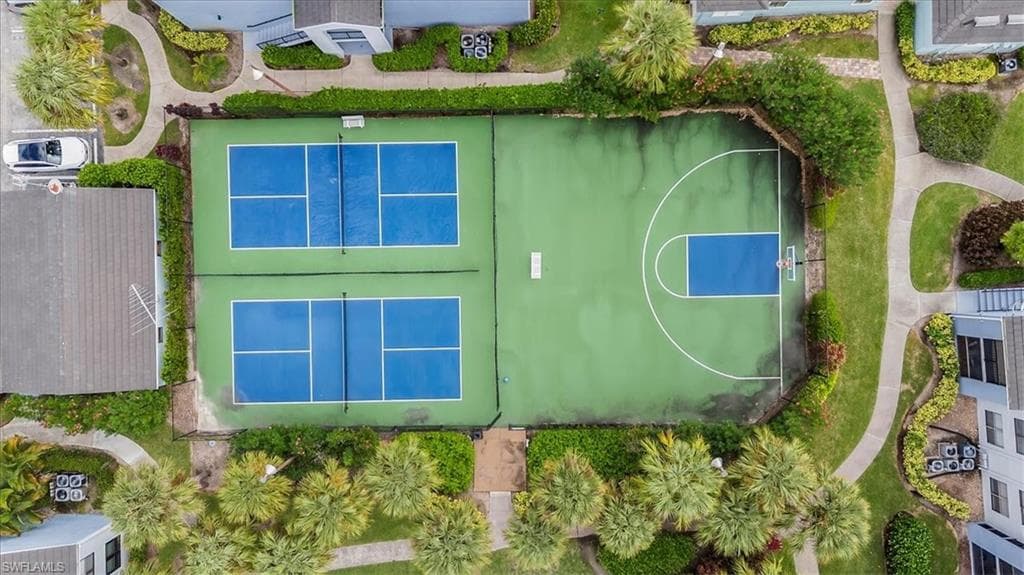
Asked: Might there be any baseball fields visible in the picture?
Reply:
No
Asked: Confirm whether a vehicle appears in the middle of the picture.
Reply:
No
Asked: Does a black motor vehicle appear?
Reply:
No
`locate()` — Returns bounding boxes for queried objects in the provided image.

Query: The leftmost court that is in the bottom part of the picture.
[193,273,499,431]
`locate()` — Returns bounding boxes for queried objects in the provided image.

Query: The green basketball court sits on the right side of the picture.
[495,110,806,430]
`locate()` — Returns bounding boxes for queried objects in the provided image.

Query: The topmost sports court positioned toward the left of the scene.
[190,113,497,275]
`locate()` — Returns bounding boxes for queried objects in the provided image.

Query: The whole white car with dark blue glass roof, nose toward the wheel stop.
[4,134,95,174]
